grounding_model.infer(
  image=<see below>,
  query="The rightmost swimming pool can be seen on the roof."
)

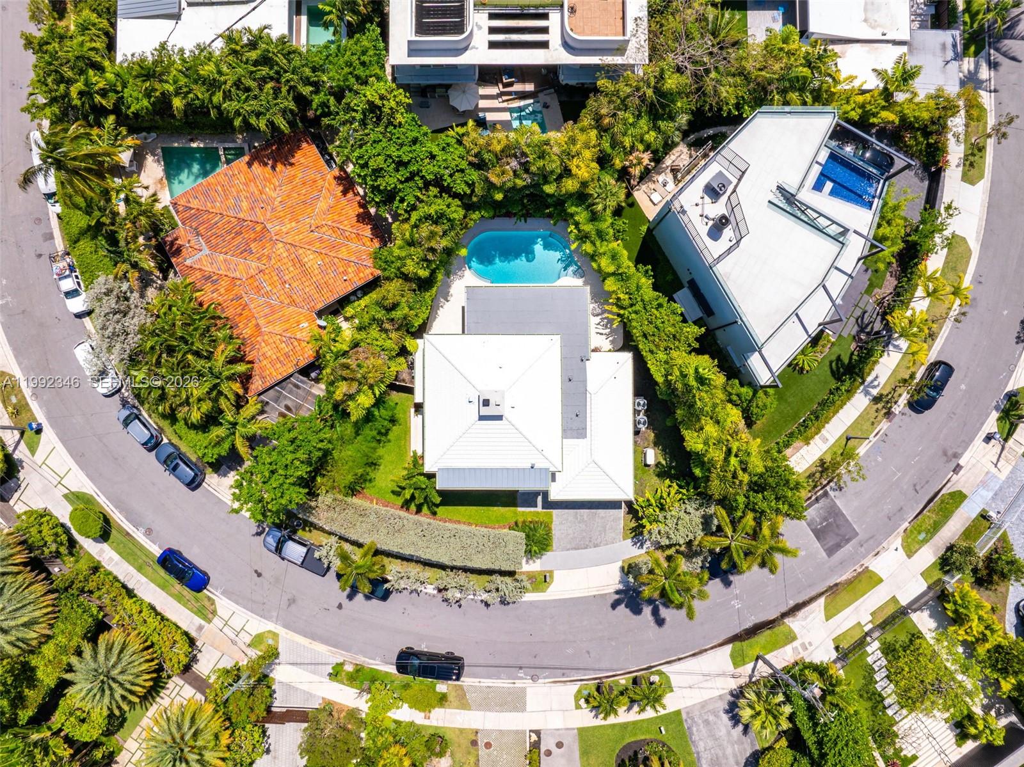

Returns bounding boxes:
[812,159,872,208]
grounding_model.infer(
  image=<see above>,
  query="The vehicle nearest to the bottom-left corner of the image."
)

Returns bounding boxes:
[156,542,213,593]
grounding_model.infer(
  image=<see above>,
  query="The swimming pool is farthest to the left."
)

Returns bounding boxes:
[158,143,227,203]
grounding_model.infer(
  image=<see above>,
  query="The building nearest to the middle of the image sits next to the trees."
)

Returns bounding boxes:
[411,286,635,509]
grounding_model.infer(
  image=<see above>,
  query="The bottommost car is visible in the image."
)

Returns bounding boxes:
[395,643,467,685]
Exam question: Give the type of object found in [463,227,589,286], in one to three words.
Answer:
swimming pool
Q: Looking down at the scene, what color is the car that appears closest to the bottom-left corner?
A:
blue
